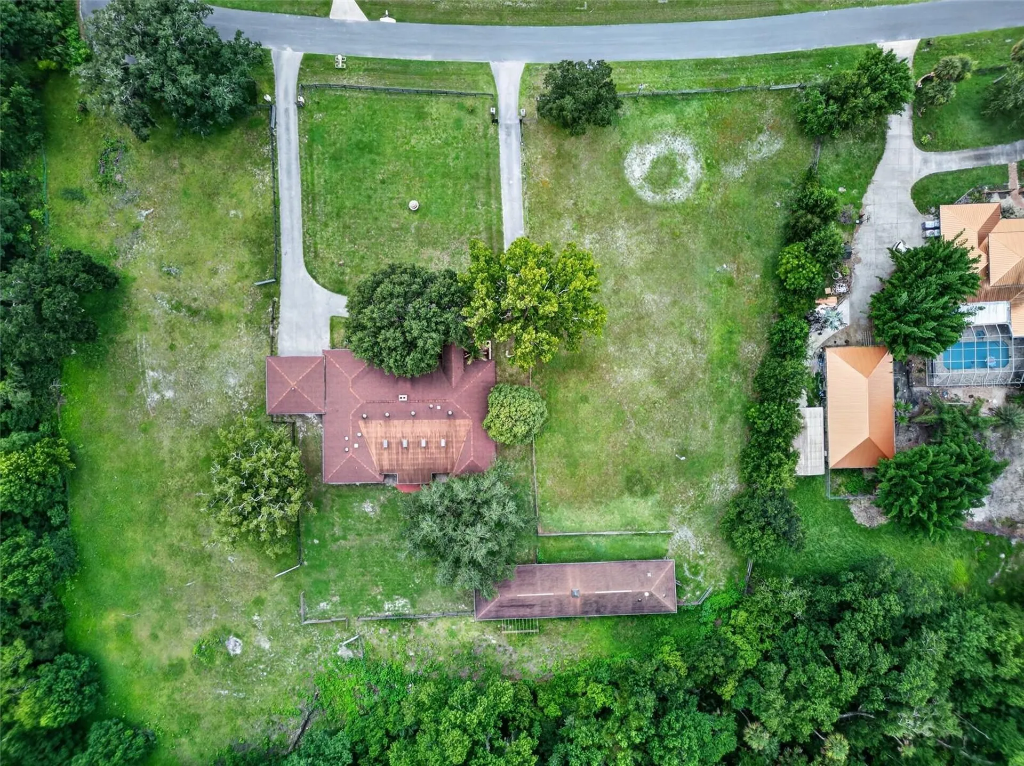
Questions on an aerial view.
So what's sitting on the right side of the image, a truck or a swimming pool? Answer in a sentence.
What appears on the right side of the image is a swimming pool.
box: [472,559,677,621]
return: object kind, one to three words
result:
building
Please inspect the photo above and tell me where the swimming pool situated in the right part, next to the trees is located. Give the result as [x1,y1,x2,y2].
[942,340,1010,370]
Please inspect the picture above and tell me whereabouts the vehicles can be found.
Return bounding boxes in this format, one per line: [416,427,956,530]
[891,237,914,258]
[920,229,940,239]
[919,220,940,231]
